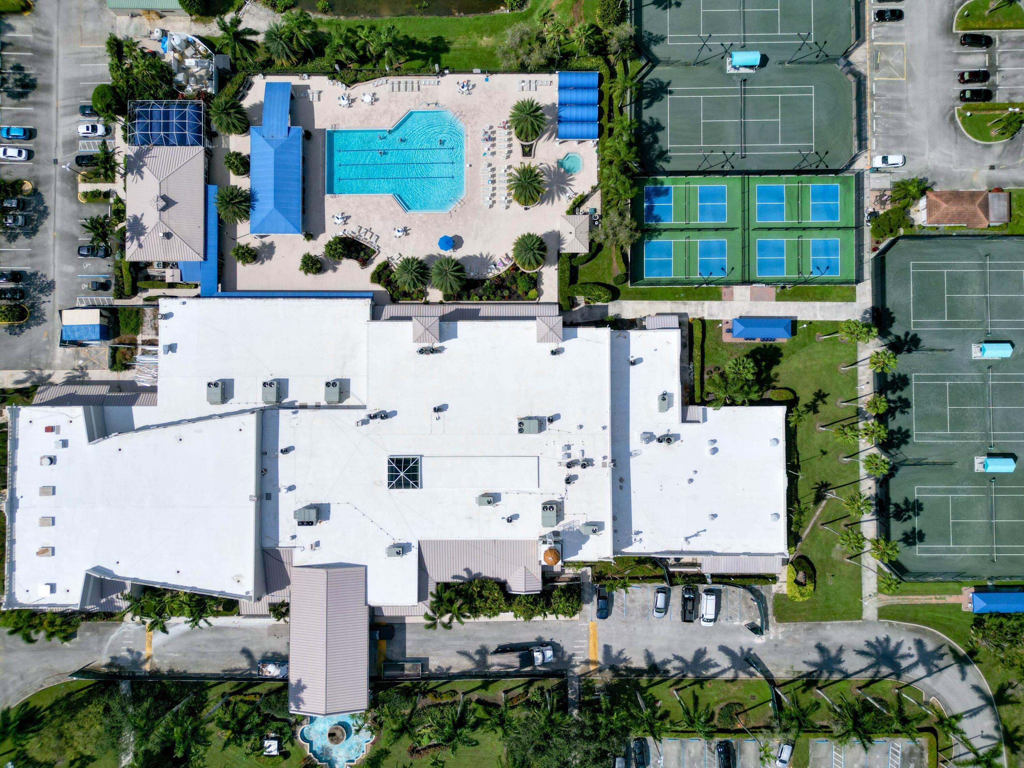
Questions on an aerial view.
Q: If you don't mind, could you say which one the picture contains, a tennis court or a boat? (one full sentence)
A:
This aerial view contains a tennis court.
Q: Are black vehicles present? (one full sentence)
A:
Yes, there is a black vehicle in the image.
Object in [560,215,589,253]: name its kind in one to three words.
shed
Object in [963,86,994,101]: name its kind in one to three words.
car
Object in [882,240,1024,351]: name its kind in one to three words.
tennis court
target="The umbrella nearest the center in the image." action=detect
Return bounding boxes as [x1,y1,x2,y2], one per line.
[438,236,453,251]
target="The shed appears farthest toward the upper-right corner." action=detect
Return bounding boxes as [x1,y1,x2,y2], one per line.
[913,191,1011,228]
